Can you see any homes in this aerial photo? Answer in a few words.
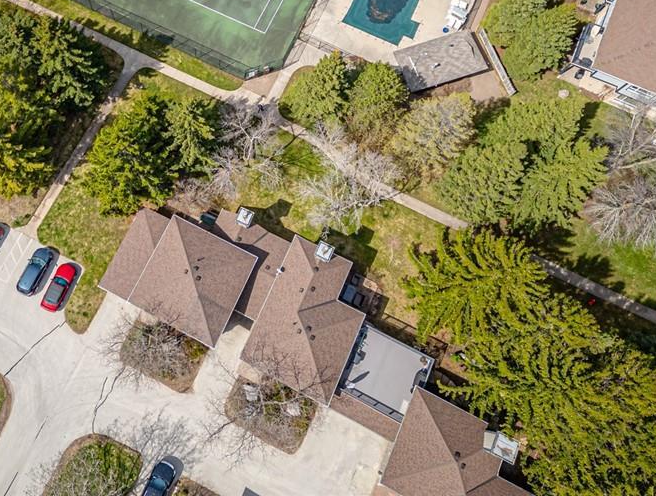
Yes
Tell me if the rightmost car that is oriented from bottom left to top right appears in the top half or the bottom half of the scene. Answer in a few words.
bottom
